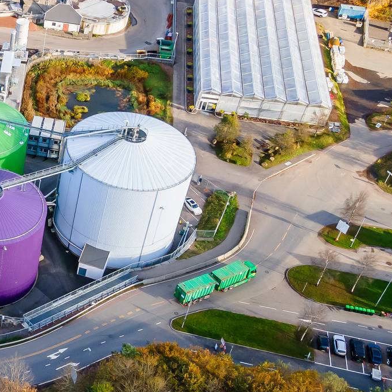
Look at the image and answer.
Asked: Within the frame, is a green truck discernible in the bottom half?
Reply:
Yes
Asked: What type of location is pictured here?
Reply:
industrial area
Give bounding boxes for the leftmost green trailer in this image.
[178,276,221,309]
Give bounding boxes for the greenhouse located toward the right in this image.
[195,0,329,119]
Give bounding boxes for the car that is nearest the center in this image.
[184,196,204,213]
